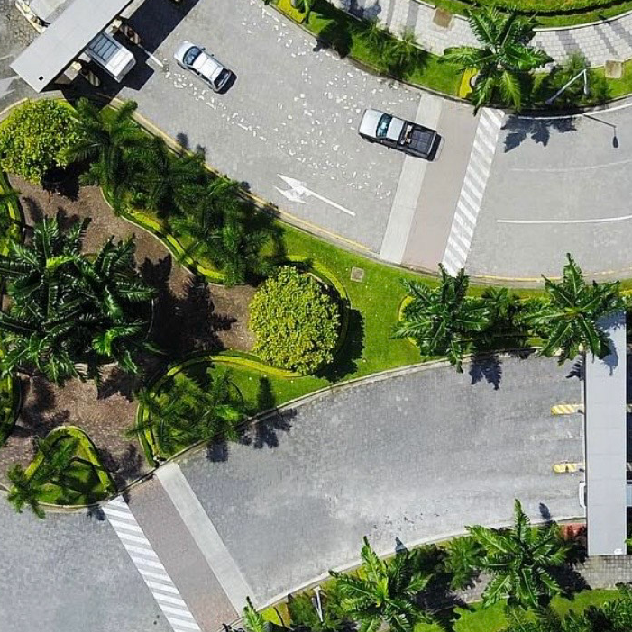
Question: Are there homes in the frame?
No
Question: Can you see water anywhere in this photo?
No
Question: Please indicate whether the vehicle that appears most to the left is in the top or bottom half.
top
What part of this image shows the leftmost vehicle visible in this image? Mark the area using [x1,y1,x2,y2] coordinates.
[91,28,144,86]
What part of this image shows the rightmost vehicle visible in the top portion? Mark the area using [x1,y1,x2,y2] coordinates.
[357,110,444,159]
